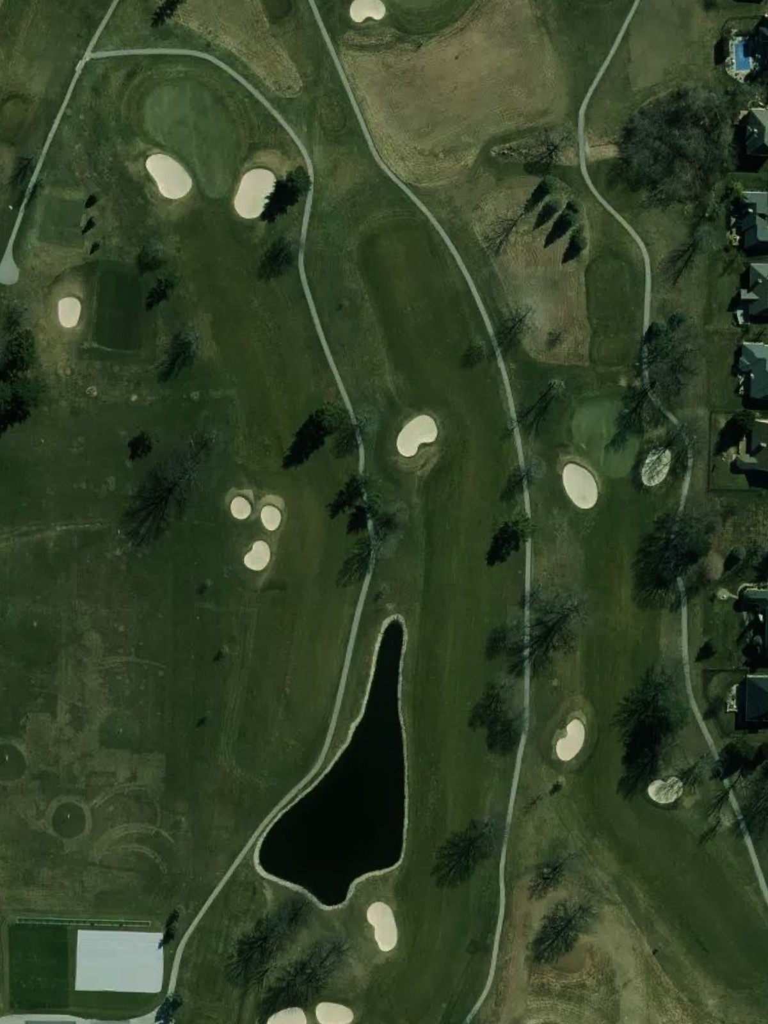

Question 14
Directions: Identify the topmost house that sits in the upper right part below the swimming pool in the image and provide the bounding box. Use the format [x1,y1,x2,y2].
[734,108,768,154]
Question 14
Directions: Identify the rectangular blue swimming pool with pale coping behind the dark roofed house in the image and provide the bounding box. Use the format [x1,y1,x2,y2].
[734,42,751,71]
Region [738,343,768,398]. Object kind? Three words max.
house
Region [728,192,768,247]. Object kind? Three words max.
house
